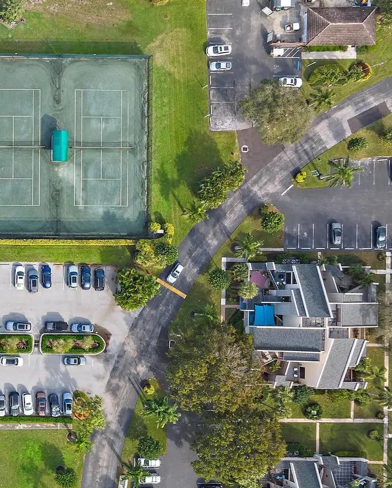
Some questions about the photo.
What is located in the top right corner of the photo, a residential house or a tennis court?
residential house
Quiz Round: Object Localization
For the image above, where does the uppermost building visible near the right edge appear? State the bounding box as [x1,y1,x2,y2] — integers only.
[305,3,385,46]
